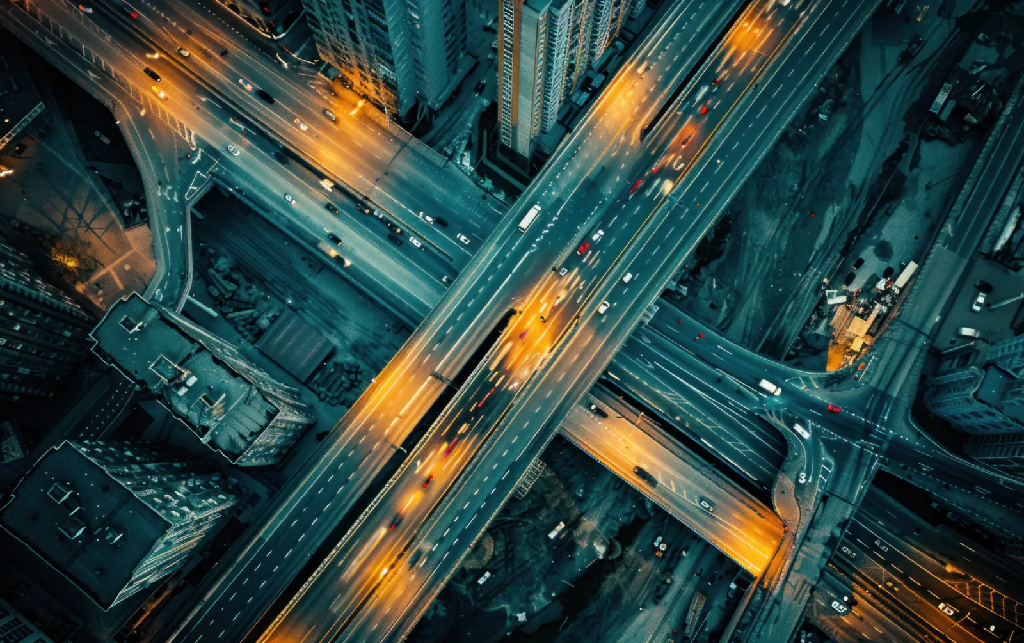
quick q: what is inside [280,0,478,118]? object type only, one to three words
building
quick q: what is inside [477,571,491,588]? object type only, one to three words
vehicle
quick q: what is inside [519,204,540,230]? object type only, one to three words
bus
